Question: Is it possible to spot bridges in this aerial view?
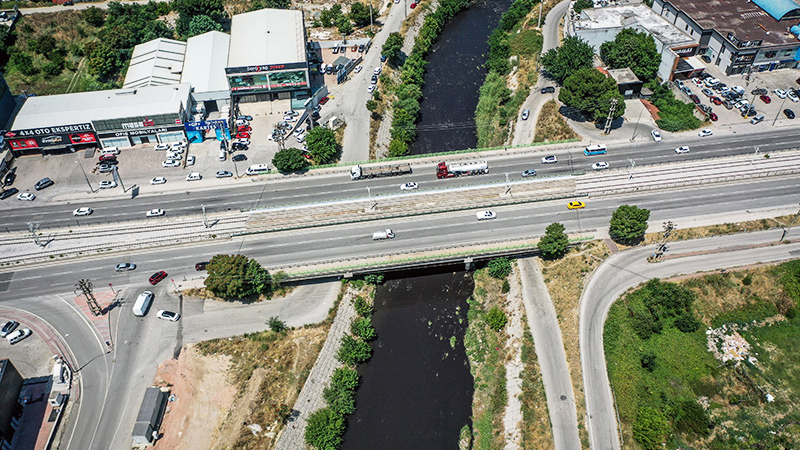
Yes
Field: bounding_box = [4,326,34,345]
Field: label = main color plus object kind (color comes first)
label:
white vehicle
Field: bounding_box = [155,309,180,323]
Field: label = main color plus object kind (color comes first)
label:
white car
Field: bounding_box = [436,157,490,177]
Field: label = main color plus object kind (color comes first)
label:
white vehicle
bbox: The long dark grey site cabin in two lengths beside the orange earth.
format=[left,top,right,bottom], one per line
[131,386,168,444]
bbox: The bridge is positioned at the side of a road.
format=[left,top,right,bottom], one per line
[252,139,601,288]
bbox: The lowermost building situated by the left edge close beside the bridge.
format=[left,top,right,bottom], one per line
[0,80,192,159]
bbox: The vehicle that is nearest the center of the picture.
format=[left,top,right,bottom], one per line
[371,223,395,240]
